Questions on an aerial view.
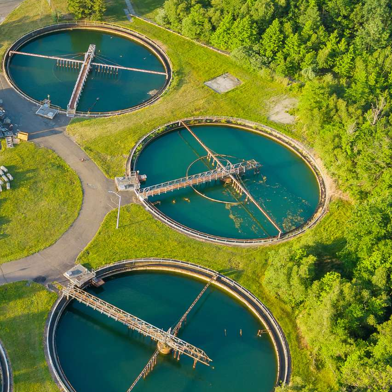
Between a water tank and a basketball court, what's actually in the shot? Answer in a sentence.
This aerial view contains a water tank.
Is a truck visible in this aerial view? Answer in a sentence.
No, the photo shows no truck.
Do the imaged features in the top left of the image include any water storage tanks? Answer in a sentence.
Yes, you'll find a water storage tank in the top left of the image.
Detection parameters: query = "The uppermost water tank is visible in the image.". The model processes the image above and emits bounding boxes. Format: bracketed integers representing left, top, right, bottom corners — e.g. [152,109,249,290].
[3,20,173,121]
